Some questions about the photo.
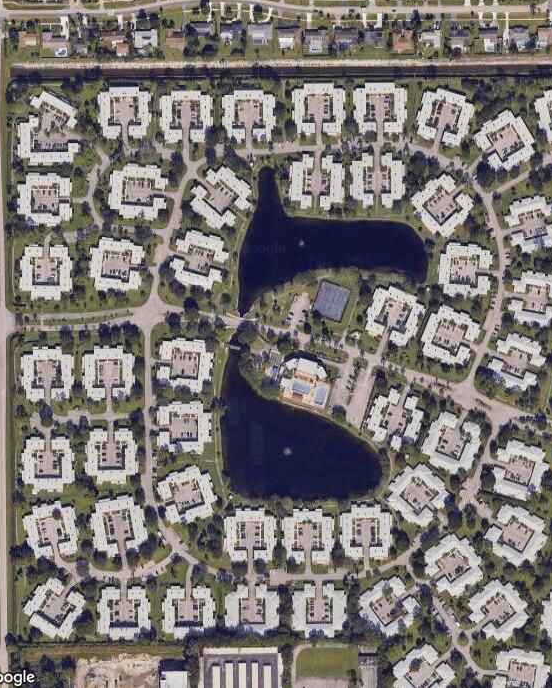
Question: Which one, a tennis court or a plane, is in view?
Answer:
tennis court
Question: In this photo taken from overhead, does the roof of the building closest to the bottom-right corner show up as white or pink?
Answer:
white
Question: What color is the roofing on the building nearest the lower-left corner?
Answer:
white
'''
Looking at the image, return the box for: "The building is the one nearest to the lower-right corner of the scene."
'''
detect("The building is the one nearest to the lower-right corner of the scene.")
[492,648,549,688]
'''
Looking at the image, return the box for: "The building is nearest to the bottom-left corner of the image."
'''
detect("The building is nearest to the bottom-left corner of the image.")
[21,578,85,640]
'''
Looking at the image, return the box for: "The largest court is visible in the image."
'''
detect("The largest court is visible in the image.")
[312,281,350,322]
